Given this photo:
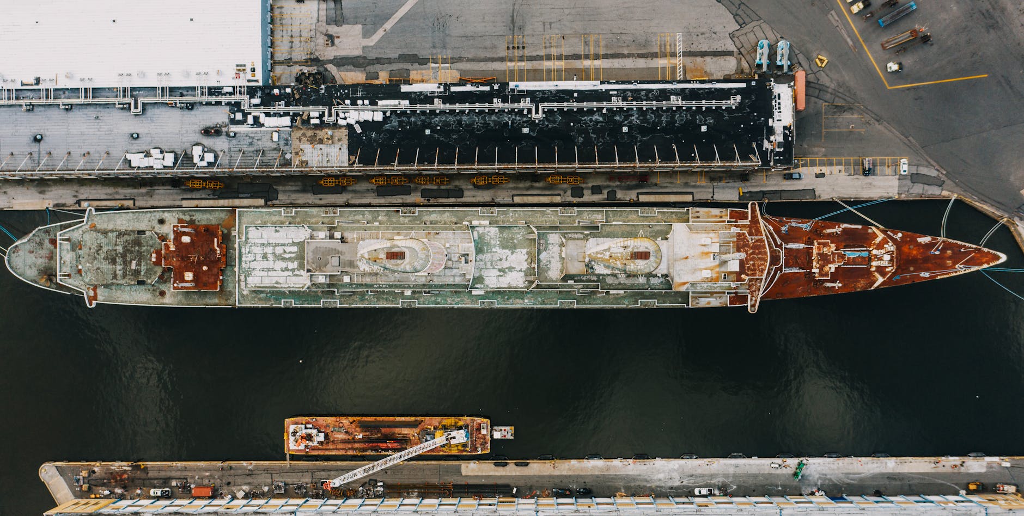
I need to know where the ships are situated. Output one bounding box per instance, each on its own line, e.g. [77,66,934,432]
[5,201,1007,314]
[284,414,490,454]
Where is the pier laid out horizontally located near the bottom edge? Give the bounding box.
[38,454,1024,507]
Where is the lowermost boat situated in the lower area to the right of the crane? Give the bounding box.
[492,426,514,439]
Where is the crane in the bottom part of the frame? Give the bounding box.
[323,418,476,490]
